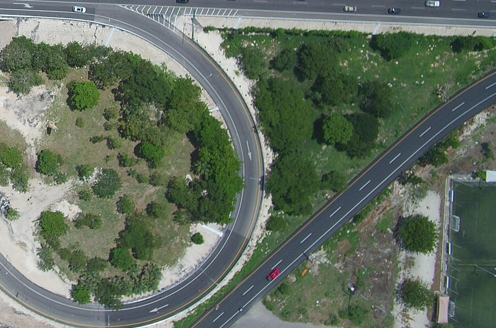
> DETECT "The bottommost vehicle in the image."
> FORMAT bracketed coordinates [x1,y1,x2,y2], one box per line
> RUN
[266,267,280,281]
